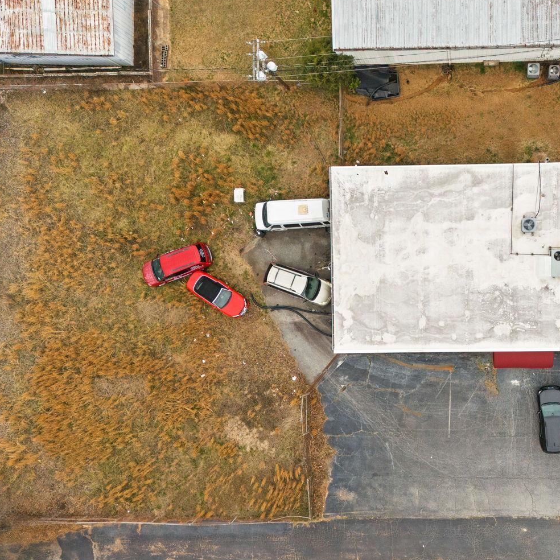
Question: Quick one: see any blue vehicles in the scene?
No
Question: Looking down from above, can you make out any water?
No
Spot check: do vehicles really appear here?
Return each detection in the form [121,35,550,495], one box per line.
[536,384,560,454]
[183,270,250,319]
[261,264,330,308]
[143,242,215,287]
[255,200,330,236]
